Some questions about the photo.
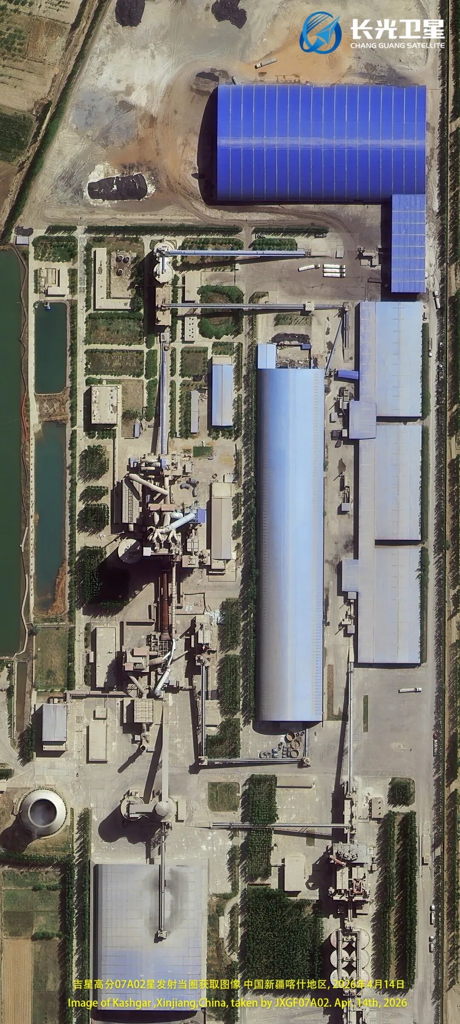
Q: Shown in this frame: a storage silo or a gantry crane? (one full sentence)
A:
Visible in the photo is a storage silo.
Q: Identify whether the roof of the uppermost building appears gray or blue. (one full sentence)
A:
In this view, the roof of the uppermost building is blue.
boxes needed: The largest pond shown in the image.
[35,423,66,612]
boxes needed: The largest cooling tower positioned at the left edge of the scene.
[12,787,69,838]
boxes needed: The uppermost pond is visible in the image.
[34,302,67,393]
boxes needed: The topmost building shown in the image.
[218,85,426,201]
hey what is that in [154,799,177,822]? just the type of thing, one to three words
silo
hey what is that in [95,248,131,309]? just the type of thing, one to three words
building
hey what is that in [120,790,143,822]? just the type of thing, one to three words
silo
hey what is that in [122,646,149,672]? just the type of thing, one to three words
house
